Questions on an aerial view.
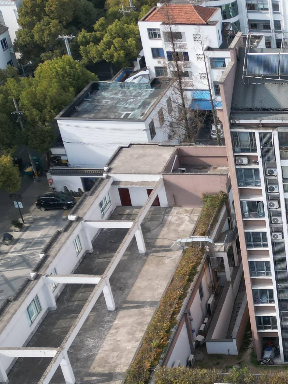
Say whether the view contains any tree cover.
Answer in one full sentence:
Yes, the picture does contain tree cover.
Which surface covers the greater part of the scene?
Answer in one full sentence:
Most of the picture is covered by buildings.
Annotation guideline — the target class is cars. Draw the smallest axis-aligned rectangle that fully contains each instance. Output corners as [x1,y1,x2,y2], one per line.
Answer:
[30,193,74,212]
[210,125,223,135]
